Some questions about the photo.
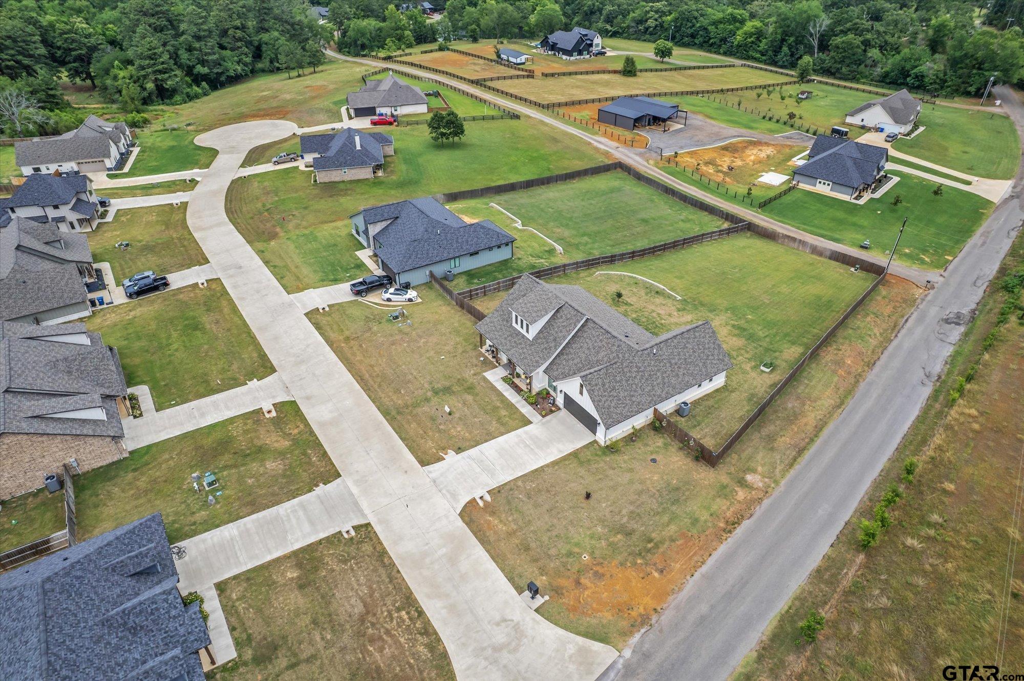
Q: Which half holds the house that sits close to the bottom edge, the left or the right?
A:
left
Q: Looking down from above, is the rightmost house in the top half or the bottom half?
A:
top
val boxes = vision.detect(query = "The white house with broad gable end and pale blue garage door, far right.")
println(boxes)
[845,86,926,134]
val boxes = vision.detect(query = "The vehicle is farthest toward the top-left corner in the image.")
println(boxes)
[96,193,114,206]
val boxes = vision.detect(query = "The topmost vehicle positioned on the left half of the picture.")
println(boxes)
[367,113,398,125]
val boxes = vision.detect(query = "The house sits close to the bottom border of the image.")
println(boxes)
[0,511,220,681]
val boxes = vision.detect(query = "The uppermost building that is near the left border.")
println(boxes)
[15,108,138,177]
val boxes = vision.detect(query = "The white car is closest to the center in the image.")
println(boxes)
[379,286,420,301]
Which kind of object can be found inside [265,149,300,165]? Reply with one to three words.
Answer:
vehicle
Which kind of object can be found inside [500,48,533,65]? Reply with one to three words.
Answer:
shed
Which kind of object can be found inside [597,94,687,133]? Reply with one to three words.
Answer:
barn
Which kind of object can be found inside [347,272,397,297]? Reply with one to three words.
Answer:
truck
